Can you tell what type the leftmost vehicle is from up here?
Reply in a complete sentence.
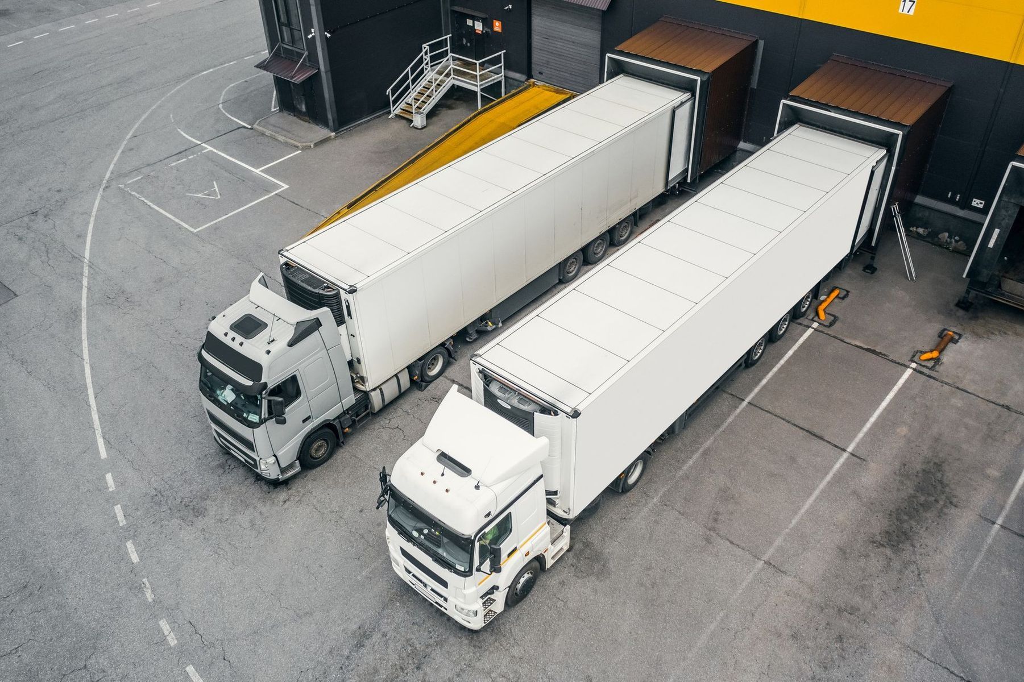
What you see as the leftmost vehicle is a truck.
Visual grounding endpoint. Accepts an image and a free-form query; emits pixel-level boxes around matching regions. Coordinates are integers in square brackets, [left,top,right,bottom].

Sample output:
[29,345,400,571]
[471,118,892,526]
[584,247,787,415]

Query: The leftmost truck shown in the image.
[188,267,451,481]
